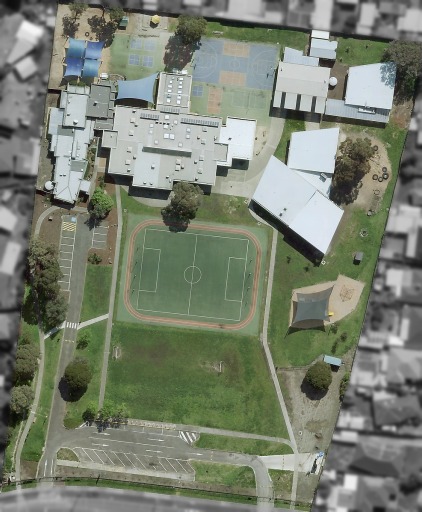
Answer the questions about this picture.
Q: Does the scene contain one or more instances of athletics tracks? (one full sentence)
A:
Yes, there is an athletics track in the image.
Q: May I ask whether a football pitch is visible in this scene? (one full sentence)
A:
Yes, a football pitch is visible in the scene.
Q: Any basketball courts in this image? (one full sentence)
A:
Yes, looking at the shot, I can spot a basketball court.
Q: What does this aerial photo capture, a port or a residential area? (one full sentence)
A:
This image shows a residential area.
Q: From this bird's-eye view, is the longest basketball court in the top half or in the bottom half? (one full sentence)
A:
Seen from above, the longest basketball court lies in the top half of the view.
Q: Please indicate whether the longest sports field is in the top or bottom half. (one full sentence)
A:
Seen from above, the longest sports field lies in the bottom half of the view.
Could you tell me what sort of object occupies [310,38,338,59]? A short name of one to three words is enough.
shed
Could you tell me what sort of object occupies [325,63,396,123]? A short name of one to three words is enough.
building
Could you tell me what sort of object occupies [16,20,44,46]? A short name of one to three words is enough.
house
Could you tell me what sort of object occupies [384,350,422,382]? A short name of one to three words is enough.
house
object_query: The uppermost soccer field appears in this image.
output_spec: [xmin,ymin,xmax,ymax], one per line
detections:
[128,226,256,324]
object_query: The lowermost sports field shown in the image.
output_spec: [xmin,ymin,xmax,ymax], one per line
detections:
[106,323,287,430]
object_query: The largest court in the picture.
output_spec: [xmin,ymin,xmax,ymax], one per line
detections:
[192,40,280,90]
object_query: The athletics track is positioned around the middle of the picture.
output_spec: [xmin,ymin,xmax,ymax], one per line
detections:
[116,214,270,336]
